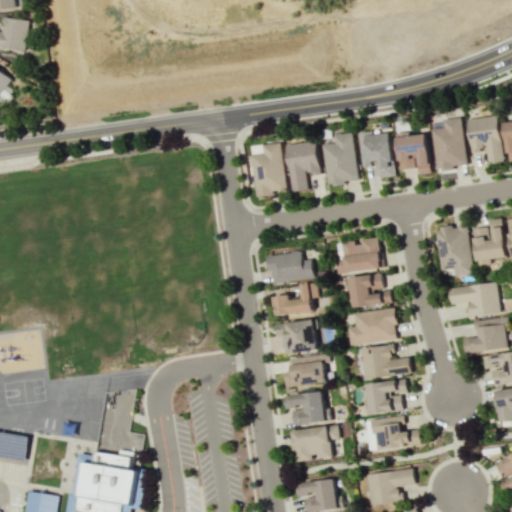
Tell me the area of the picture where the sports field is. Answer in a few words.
left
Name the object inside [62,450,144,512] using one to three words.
building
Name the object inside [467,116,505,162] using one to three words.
house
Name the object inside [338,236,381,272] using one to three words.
house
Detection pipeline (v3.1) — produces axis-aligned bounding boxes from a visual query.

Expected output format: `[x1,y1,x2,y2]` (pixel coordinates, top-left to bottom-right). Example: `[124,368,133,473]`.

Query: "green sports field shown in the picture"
[0,151,227,378]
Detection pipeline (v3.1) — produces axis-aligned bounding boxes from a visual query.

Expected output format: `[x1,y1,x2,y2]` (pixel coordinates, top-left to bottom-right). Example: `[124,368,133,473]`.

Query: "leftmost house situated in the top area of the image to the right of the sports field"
[250,142,288,199]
